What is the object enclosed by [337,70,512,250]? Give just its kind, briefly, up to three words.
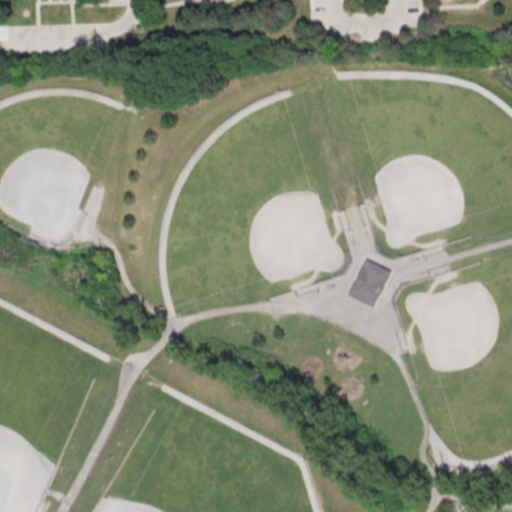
baseball field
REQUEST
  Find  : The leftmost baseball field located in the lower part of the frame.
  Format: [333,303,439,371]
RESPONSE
[0,298,110,512]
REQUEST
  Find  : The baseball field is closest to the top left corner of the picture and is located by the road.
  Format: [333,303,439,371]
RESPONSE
[0,88,124,250]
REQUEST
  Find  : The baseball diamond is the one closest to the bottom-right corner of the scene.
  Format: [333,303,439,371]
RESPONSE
[406,273,512,472]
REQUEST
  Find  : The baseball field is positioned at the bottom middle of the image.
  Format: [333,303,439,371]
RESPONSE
[92,384,321,512]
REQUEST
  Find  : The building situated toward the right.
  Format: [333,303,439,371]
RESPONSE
[349,258,391,306]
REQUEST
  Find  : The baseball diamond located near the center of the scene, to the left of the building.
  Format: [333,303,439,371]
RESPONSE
[160,89,345,324]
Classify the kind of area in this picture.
sports ground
